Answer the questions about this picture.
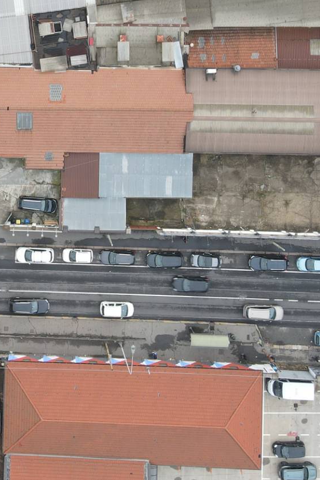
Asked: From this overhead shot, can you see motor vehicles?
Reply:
Yes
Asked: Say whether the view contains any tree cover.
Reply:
No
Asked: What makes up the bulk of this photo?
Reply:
buildings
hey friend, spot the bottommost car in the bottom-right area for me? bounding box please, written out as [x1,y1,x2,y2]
[276,460,318,480]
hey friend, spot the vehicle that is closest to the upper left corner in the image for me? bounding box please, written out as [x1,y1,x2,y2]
[18,195,57,214]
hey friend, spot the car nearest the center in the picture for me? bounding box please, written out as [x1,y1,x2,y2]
[144,250,183,269]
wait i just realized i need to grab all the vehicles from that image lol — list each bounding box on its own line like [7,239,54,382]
[270,438,307,459]
[9,295,49,316]
[313,329,320,345]
[98,299,134,319]
[144,250,183,269]
[188,252,222,269]
[263,379,317,400]
[241,301,284,322]
[61,248,93,265]
[276,460,318,480]
[294,255,320,273]
[98,249,135,266]
[18,195,57,214]
[246,253,288,273]
[16,245,55,265]
[171,273,210,294]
